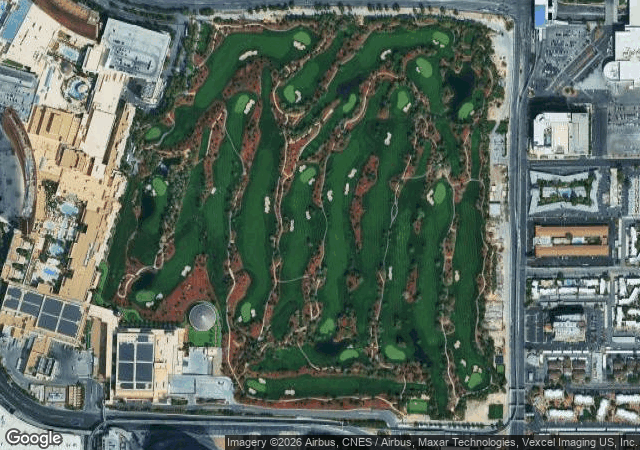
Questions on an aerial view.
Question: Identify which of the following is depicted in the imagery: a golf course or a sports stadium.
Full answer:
It is a golf course that can be seen here.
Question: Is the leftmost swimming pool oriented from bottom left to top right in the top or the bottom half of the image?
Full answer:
The leftmost swimming pool oriented from bottom left to top right is in the top half of the image.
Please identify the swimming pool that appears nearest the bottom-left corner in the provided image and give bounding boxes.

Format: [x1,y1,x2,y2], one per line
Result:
[34,258,60,286]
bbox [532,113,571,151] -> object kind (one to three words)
building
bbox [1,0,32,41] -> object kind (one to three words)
swimming pool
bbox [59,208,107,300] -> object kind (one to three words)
building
